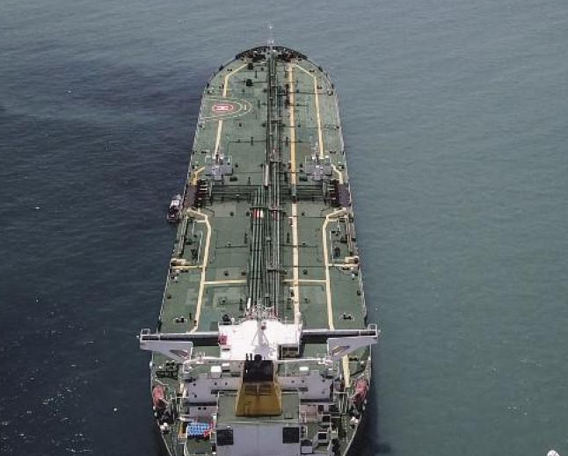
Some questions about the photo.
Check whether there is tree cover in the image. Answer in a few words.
No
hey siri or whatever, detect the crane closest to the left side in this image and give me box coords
[203,146,231,187]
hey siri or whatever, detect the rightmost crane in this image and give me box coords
[303,145,329,186]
